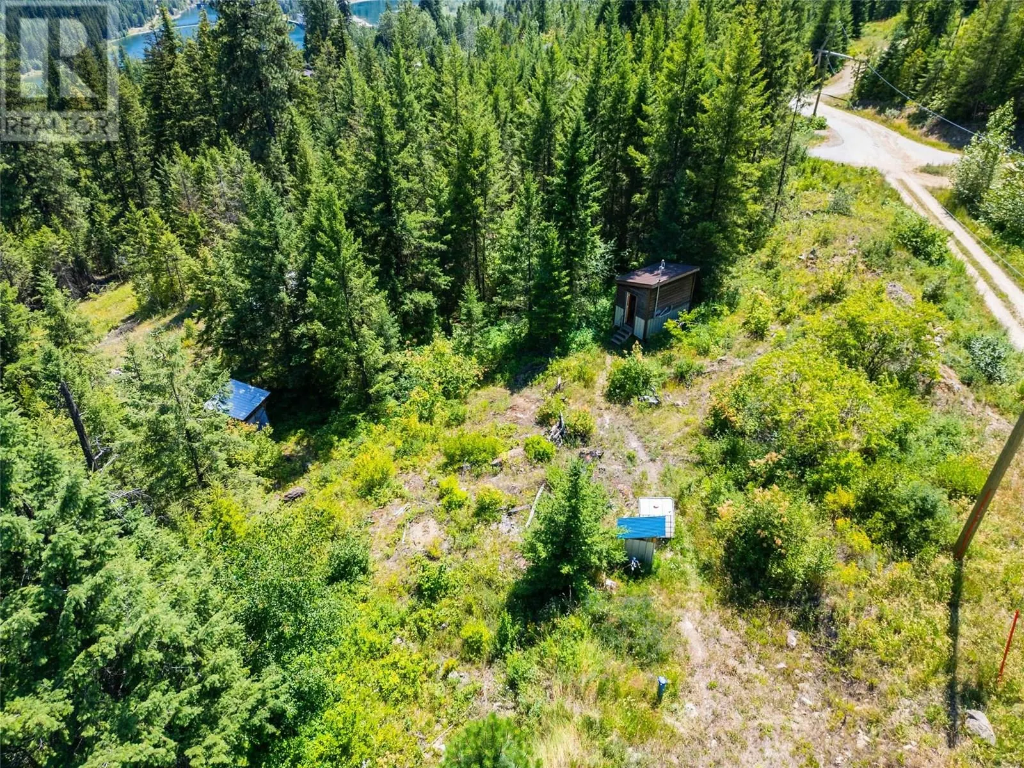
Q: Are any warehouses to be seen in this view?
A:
No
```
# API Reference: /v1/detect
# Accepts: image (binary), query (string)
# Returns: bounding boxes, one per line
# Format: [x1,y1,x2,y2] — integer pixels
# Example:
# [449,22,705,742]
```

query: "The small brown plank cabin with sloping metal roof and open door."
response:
[605,257,699,343]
